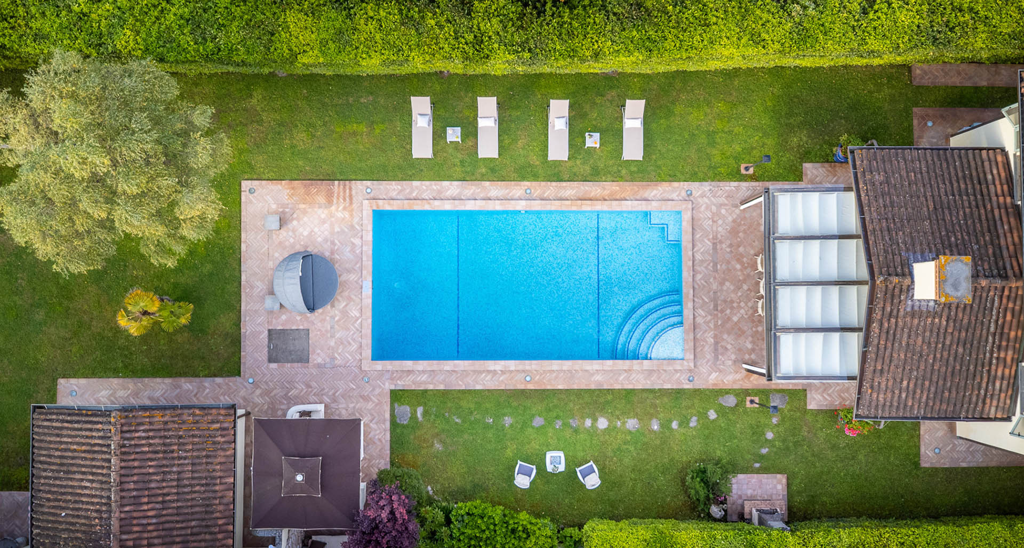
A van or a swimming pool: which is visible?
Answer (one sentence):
I can see a swimming pool in this picture.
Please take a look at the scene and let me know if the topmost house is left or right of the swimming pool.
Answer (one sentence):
Looking at the picture, you'll find the topmost house to the right of the swimming pool.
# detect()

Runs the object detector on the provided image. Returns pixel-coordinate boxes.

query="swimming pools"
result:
[362,200,694,370]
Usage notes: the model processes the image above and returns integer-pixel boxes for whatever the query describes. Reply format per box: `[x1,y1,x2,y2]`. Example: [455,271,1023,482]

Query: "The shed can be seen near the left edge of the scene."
[28,402,251,548]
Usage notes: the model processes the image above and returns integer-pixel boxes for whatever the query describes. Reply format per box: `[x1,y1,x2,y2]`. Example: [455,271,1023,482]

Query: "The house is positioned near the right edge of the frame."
[831,72,1024,460]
